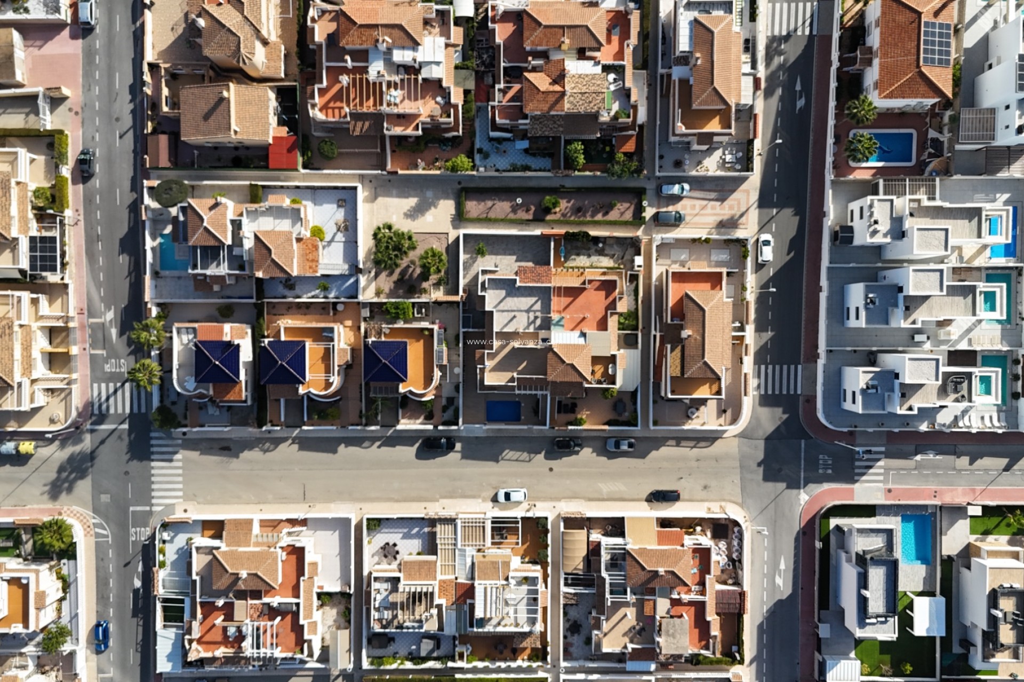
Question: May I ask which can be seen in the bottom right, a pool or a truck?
pool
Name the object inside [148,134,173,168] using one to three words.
shed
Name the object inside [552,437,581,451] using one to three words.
car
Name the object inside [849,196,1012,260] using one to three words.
house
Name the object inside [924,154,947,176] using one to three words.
gazebo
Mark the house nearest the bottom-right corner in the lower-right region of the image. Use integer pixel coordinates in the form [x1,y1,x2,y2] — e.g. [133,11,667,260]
[948,537,1024,668]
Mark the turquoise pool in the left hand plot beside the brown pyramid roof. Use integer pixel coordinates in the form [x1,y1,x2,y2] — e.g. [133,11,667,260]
[157,231,189,273]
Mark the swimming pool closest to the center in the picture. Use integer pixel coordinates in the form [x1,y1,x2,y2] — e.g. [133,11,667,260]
[485,400,522,423]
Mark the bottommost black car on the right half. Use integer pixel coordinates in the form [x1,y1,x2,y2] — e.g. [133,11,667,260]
[651,488,681,503]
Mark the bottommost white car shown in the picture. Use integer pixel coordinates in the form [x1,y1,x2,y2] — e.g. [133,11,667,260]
[498,488,527,502]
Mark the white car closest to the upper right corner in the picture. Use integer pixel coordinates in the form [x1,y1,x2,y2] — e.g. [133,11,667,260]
[757,234,773,264]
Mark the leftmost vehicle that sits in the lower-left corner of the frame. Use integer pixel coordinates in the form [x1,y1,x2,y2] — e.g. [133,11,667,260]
[94,619,111,651]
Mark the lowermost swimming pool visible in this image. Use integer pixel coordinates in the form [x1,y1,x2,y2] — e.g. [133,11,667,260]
[899,513,932,565]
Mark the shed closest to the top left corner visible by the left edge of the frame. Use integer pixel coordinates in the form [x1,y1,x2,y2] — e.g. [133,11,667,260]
[0,27,28,87]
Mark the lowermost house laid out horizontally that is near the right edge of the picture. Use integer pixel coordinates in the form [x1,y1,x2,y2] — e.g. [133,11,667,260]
[842,355,1001,414]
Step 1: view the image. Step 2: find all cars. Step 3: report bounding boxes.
[186,676,215,682]
[757,234,773,264]
[94,619,111,651]
[605,437,636,451]
[423,436,456,451]
[654,209,685,225]
[651,488,681,503]
[79,0,96,30]
[498,488,527,502]
[552,437,581,451]
[659,182,689,197]
[79,149,95,177]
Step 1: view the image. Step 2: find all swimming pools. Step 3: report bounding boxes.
[157,231,189,273]
[849,128,917,166]
[988,205,1020,261]
[485,400,522,423]
[982,270,1016,329]
[977,352,1012,410]
[899,513,932,565]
